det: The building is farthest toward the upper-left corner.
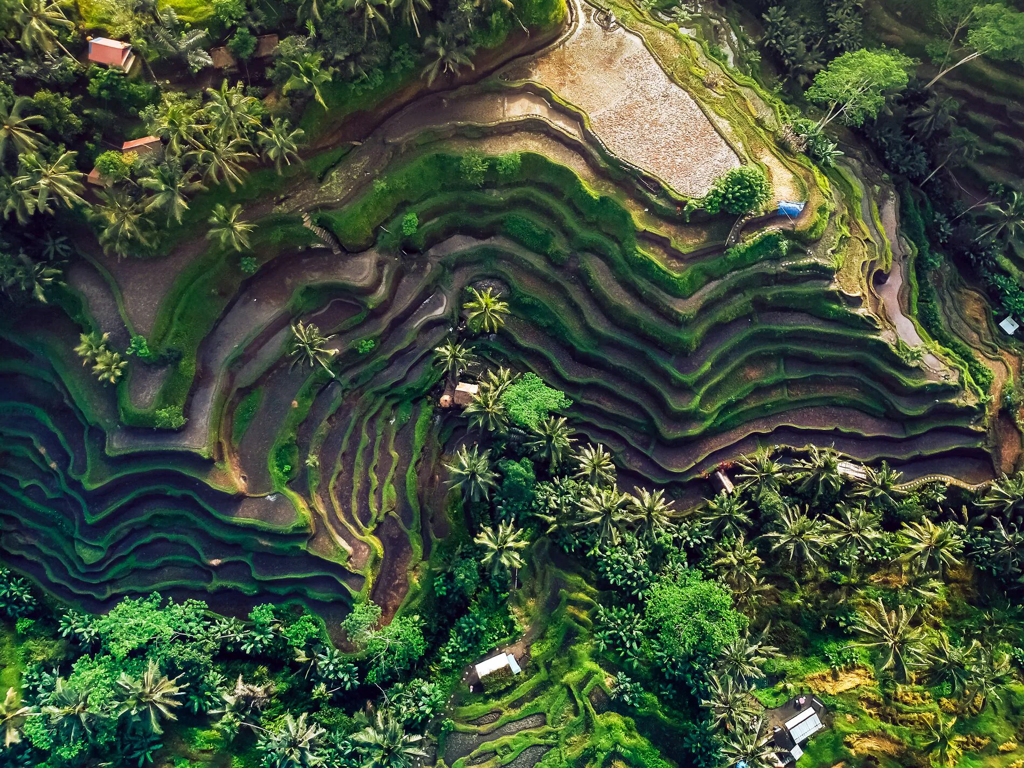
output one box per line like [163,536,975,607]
[88,37,146,77]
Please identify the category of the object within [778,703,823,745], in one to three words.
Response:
shed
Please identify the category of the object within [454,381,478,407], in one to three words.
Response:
shed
